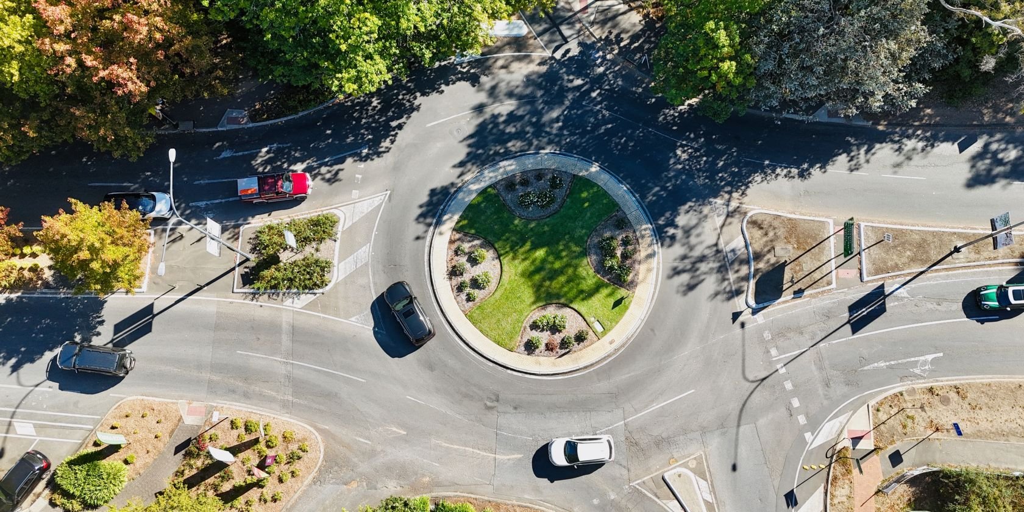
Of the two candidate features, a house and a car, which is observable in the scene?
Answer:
car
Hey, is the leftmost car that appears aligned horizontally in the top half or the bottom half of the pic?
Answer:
bottom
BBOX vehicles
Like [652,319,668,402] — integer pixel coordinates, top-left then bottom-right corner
[385,282,436,349]
[56,341,138,378]
[0,449,50,512]
[236,171,312,206]
[548,433,615,471]
[974,280,1024,314]
[102,185,175,218]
